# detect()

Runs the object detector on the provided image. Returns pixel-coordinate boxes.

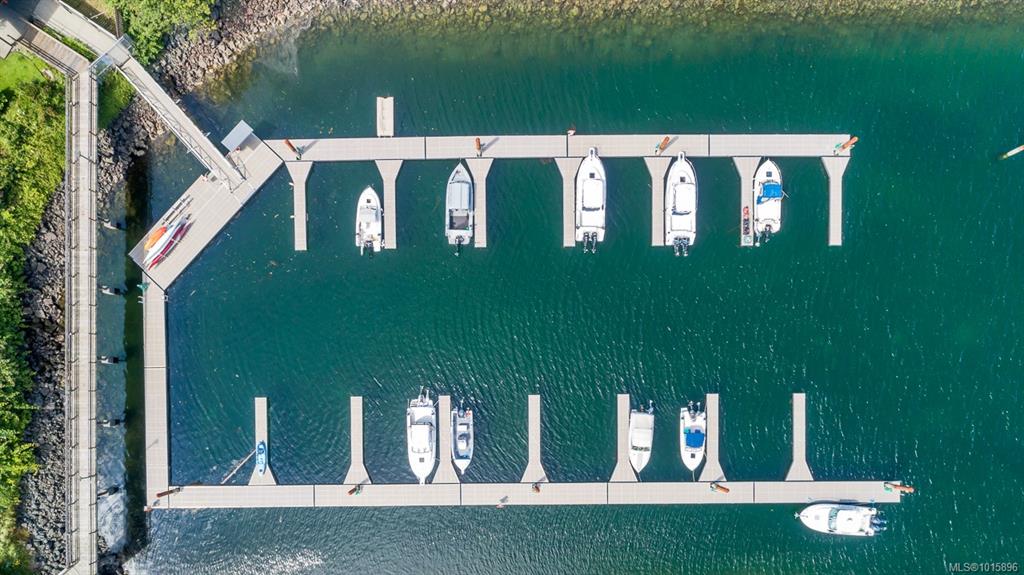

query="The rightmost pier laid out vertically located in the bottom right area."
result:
[783,393,813,481]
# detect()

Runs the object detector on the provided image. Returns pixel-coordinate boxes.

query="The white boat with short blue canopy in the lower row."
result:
[679,393,707,472]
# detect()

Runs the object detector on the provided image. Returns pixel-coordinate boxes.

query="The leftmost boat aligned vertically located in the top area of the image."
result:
[357,186,382,260]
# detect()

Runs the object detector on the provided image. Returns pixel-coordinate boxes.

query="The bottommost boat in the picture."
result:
[796,503,890,536]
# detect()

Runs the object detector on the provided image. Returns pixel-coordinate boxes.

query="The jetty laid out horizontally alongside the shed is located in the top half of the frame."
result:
[264,136,425,162]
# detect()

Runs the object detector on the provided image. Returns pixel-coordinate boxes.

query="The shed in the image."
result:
[220,119,261,160]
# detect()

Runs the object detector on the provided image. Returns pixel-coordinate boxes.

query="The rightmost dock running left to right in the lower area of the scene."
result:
[754,481,901,504]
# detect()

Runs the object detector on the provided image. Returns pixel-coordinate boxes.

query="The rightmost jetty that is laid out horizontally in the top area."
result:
[708,134,851,158]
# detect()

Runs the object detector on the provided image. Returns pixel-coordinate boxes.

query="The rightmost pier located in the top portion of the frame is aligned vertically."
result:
[821,157,851,247]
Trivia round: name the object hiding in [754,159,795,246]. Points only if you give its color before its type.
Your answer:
white boat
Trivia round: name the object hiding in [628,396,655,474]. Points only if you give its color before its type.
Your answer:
white boat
